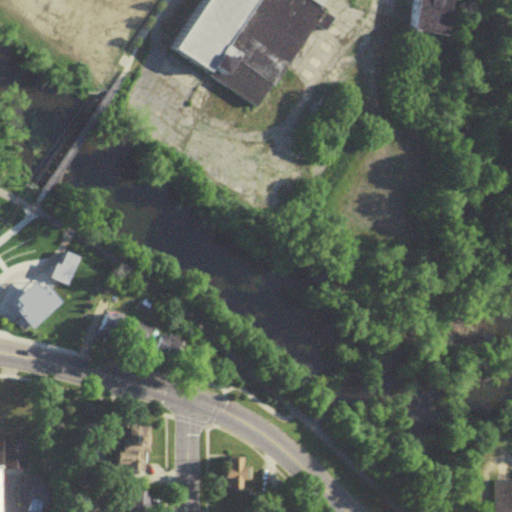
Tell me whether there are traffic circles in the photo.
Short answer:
No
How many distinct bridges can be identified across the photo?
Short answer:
one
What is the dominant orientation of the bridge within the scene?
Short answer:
diagonally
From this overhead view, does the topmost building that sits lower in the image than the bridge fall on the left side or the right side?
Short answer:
left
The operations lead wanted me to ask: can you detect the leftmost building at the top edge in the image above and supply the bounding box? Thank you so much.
[172,0,262,73]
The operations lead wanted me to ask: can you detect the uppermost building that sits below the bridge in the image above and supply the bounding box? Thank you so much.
[52,251,82,286]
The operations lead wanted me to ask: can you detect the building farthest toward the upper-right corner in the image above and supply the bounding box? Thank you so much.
[412,0,456,37]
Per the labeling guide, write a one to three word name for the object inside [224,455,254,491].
house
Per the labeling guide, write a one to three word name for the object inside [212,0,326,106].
building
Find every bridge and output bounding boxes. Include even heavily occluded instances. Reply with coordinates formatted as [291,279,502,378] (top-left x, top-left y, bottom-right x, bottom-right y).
[20,66,127,202]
